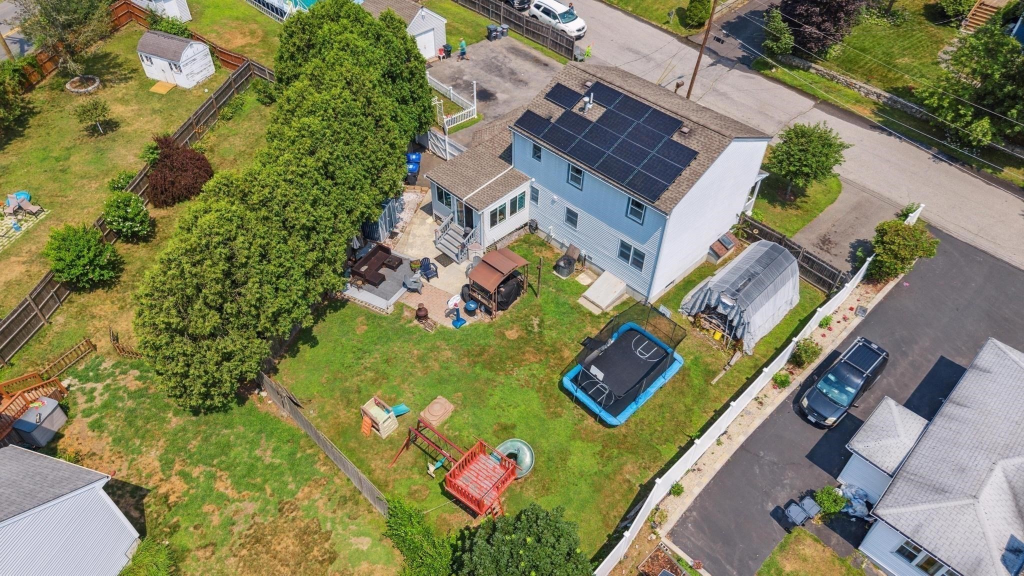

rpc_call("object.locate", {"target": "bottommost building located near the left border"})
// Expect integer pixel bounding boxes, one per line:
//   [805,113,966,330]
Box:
[0,439,137,576]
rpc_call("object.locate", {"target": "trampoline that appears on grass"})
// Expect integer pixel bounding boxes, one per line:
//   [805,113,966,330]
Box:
[565,302,685,423]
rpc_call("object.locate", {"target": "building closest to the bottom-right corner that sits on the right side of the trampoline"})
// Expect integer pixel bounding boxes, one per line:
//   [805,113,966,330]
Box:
[836,337,1024,576]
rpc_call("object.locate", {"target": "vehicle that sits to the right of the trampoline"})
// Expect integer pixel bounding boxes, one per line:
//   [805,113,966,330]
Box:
[800,330,891,428]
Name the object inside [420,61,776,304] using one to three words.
house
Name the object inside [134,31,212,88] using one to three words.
shed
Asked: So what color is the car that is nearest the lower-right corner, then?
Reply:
blue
